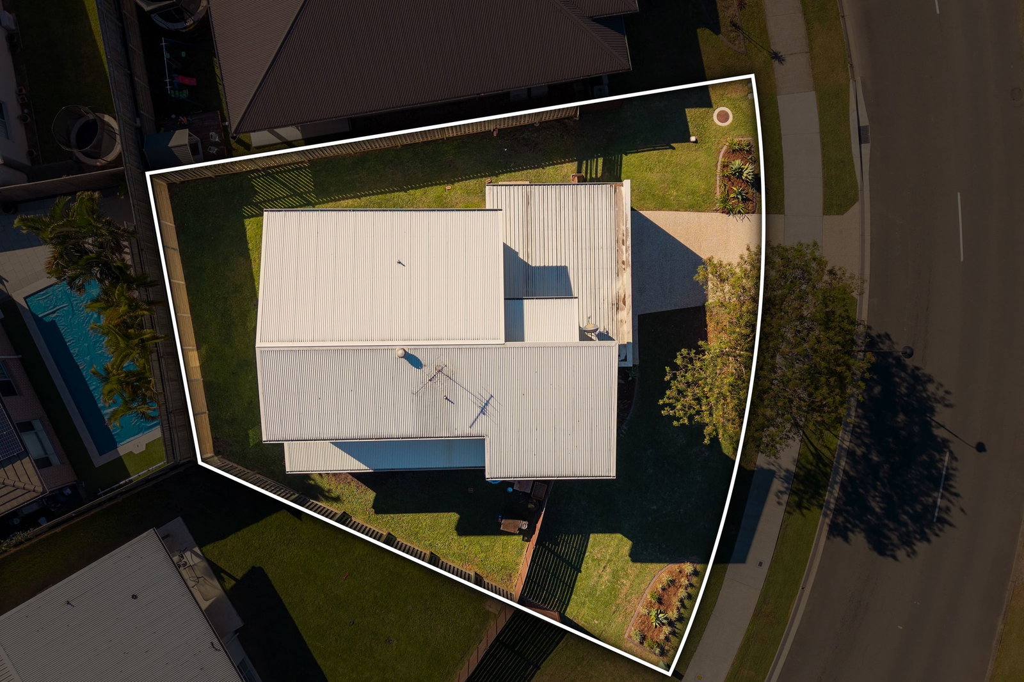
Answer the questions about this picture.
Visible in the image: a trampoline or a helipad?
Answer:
trampoline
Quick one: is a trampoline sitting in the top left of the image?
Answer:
Yes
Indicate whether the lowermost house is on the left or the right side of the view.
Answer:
left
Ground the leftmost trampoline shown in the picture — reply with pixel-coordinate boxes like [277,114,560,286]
[48,100,123,169]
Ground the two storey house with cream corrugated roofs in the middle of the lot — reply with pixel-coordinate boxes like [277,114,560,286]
[257,179,632,480]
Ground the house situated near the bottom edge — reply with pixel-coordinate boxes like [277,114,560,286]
[0,519,287,682]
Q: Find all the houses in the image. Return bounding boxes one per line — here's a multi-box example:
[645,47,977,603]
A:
[0,312,76,520]
[0,519,287,682]
[257,179,632,480]
[0,0,31,171]
[210,0,641,136]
